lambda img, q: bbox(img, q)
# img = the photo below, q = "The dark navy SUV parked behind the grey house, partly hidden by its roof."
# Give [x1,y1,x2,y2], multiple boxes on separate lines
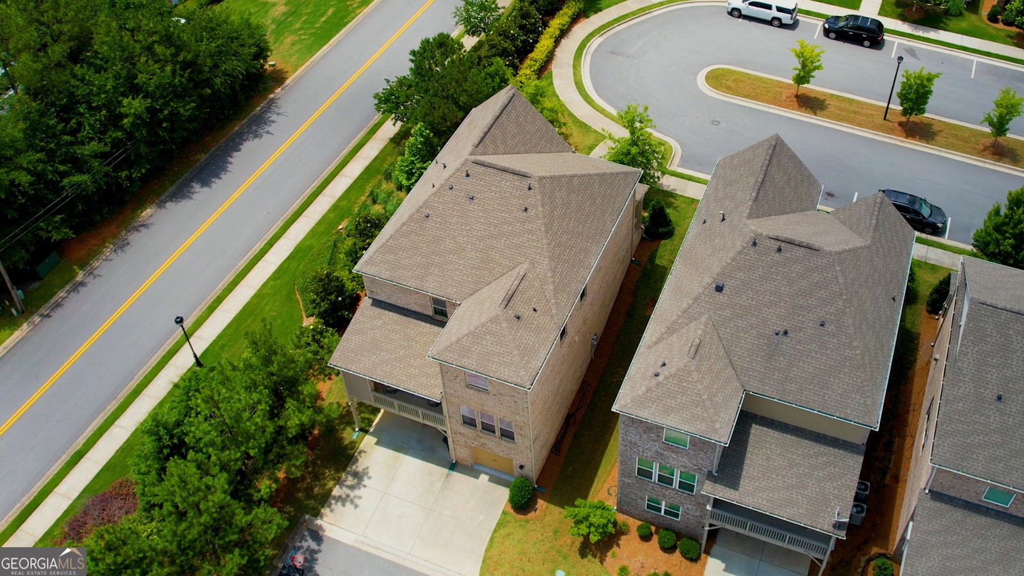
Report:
[876,186,948,233]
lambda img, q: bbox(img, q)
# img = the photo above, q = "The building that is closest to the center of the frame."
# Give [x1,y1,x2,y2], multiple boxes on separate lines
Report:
[326,87,655,490]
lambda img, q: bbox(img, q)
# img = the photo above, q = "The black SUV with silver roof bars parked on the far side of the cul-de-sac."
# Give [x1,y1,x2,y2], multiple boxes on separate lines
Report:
[823,16,888,48]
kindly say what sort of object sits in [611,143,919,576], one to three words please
house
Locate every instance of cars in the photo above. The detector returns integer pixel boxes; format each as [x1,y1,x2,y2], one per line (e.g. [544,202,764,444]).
[725,0,797,27]
[876,186,948,233]
[823,16,888,48]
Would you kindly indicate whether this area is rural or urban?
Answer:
urban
